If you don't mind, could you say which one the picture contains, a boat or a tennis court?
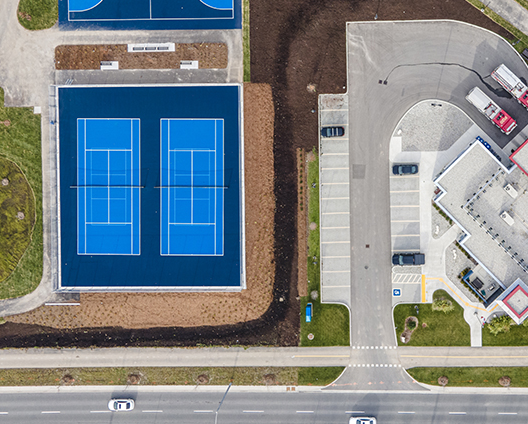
tennis court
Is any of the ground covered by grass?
Yes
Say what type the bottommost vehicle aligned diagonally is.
truck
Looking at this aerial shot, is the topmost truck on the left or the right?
right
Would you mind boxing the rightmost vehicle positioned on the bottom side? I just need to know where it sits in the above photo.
[392,252,426,267]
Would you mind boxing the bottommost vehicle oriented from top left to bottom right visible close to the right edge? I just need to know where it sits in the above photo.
[465,89,515,137]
